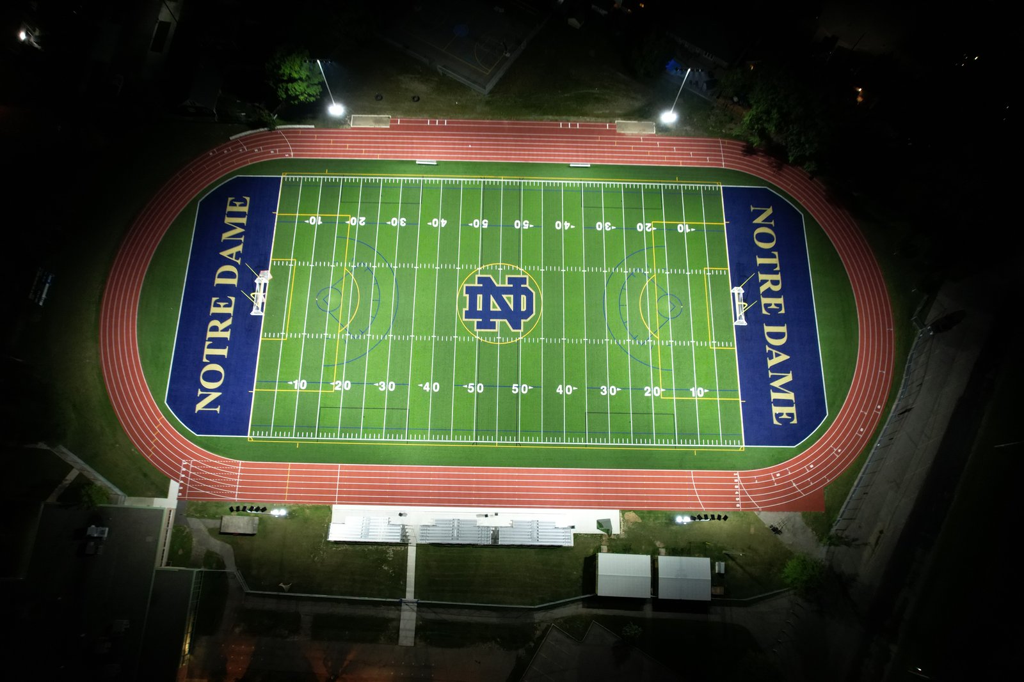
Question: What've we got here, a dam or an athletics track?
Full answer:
I can see an athletics track in this picture.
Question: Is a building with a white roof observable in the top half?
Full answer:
No, the scene shows no building with a white roof in the top half.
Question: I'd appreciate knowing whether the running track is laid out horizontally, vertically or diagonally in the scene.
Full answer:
What the image shows is the running track lying horizontally.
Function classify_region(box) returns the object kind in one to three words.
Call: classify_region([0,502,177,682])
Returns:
building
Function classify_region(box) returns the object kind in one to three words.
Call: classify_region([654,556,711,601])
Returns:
shed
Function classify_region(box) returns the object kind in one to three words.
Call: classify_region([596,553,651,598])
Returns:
shed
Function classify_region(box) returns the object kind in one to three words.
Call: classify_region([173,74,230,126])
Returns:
house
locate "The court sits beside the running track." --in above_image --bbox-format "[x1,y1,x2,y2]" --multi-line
[377,0,551,92]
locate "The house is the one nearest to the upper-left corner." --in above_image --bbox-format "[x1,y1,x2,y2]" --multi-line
[3,1,65,57]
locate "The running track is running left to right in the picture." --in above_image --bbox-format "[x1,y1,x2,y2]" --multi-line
[94,117,898,512]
